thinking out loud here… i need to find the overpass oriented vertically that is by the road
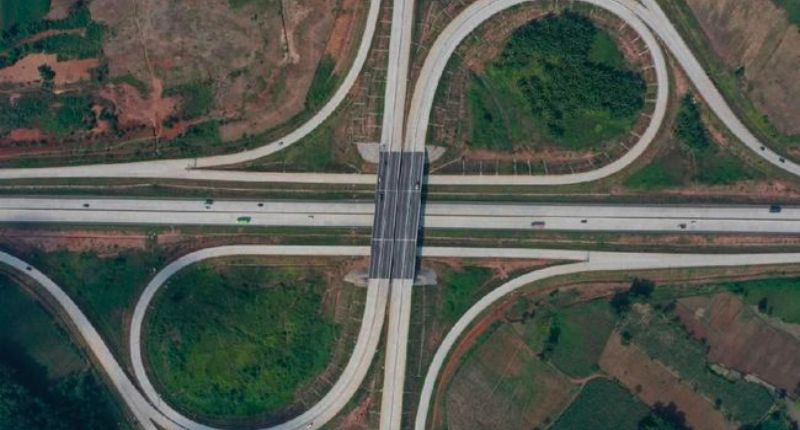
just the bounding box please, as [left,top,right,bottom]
[369,152,424,279]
